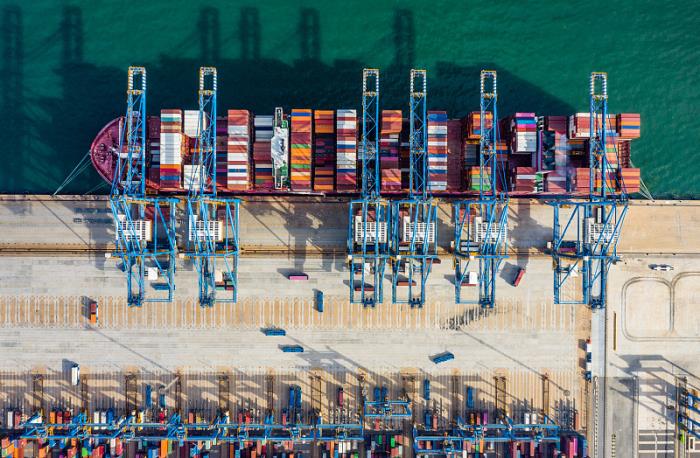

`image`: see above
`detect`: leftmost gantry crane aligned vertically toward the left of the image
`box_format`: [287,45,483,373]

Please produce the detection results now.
[107,65,187,308]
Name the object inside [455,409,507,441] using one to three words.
crane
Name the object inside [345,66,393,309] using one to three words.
container crane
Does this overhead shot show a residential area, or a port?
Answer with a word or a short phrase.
port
